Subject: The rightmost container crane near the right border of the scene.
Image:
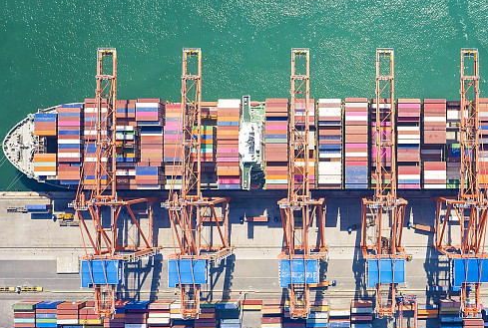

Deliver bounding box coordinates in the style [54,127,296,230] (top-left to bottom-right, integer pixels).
[426,48,488,319]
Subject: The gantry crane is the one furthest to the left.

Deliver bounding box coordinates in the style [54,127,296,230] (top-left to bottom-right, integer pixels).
[66,49,170,319]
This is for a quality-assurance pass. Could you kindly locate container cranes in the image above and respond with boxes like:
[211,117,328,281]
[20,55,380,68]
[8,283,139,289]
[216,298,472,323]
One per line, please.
[66,49,170,319]
[354,49,411,319]
[397,292,419,328]
[426,48,488,319]
[160,49,241,319]
[278,49,333,319]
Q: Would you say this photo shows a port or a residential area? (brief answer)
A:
port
